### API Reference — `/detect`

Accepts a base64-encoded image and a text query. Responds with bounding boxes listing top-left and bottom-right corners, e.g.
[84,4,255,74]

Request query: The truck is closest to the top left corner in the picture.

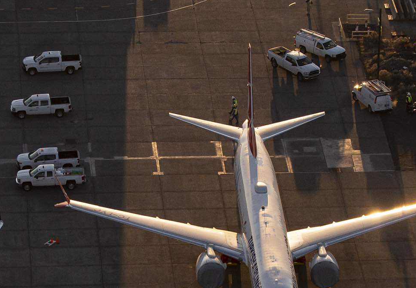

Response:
[21,51,83,75]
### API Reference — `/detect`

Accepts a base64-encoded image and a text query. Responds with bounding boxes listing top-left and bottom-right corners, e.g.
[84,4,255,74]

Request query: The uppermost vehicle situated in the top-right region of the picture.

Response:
[290,25,352,63]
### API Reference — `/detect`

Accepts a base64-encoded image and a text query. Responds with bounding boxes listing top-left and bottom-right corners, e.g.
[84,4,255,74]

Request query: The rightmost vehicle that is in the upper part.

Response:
[349,80,395,114]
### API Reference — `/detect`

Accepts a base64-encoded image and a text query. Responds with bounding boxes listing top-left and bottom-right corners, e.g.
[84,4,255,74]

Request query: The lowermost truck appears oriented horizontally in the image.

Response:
[16,161,86,188]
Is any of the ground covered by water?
No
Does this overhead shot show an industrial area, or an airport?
airport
